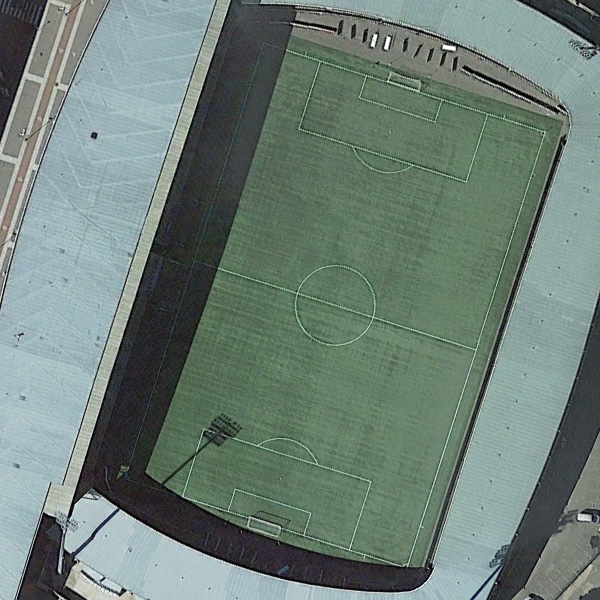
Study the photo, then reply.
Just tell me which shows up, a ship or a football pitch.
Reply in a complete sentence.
There is a football pitch in the scene.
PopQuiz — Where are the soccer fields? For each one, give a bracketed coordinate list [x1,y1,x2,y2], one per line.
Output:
[100,22,563,576]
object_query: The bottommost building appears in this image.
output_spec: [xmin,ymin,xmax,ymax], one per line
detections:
[64,561,139,600]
